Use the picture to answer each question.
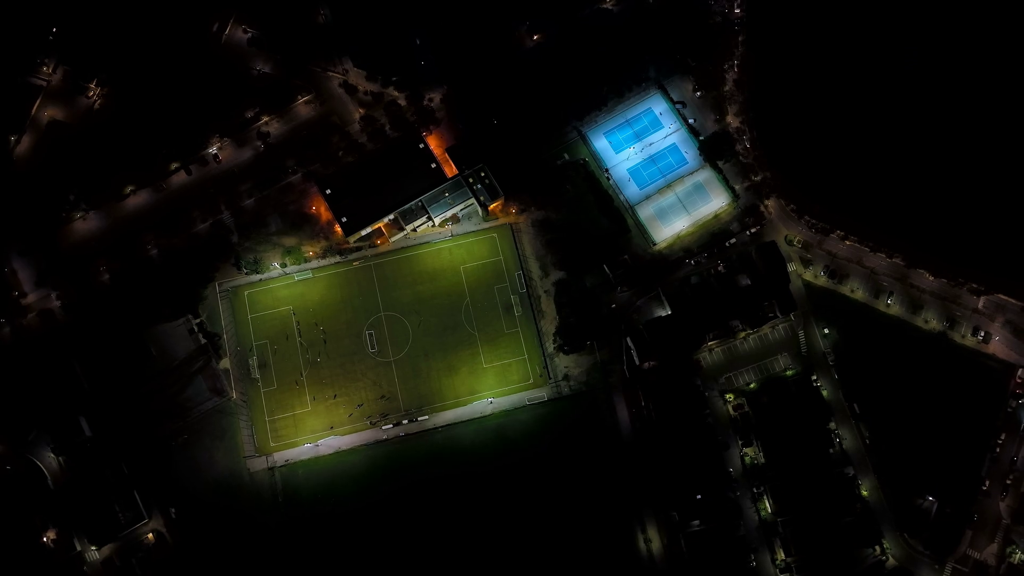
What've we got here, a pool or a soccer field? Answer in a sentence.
The one in the frame is a soccer field.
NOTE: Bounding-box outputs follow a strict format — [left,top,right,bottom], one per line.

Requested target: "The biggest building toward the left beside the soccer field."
[306,122,451,243]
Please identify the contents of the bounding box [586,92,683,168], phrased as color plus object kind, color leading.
blue tennis court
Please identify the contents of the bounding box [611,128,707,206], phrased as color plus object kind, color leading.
blue tennis court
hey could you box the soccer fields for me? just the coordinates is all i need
[229,223,549,455]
